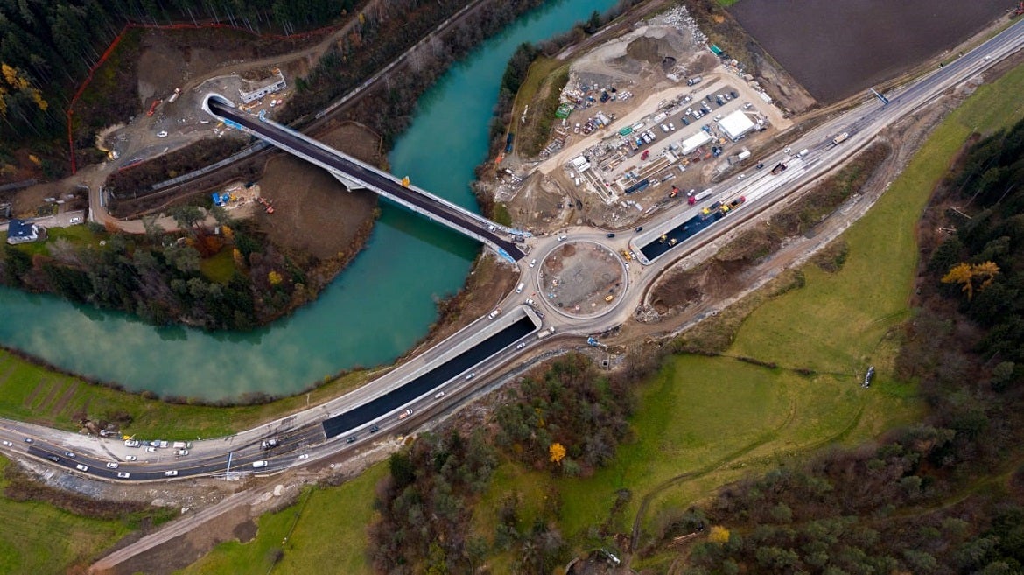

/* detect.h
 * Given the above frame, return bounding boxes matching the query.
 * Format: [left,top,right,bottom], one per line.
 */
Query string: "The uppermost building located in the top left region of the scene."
[240,76,286,101]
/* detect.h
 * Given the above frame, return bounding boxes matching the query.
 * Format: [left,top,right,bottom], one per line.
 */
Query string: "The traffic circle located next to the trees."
[525,229,640,330]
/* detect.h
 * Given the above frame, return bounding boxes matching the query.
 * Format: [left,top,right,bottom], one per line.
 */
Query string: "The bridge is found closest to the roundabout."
[222,103,536,266]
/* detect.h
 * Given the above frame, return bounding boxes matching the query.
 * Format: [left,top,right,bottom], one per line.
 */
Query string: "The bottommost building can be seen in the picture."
[0,222,50,250]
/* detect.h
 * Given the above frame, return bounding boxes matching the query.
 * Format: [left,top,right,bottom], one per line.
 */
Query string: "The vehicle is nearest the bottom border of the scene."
[597,543,621,565]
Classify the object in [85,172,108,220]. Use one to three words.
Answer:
overpass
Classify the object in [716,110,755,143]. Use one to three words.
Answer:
building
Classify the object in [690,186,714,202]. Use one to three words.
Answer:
vehicle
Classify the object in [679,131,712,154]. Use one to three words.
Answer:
building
